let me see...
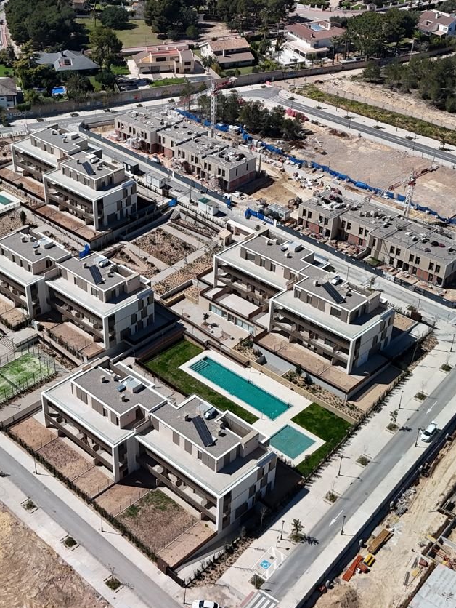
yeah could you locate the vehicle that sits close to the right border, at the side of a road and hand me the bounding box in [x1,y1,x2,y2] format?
[421,423,437,439]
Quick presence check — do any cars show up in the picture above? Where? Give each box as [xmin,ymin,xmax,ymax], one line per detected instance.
[192,600,219,608]
[421,423,437,439]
